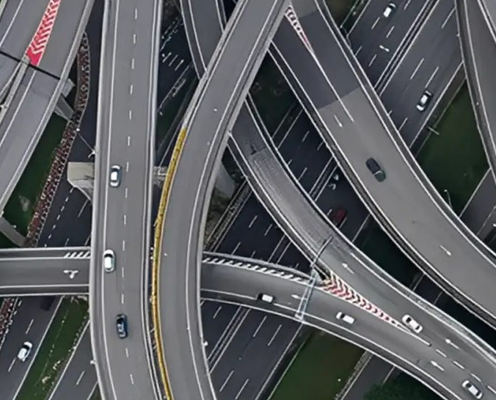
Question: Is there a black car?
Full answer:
Yes, looking at the shot, I can spot a black car.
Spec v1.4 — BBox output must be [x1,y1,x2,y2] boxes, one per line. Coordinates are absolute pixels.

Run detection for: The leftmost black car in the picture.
[39,296,56,313]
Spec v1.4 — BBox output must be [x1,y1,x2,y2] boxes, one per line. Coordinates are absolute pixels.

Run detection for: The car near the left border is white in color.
[17,340,33,361]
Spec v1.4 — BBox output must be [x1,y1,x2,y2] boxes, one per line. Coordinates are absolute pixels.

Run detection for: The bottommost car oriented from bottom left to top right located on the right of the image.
[330,203,347,223]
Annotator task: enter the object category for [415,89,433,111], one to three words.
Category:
car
